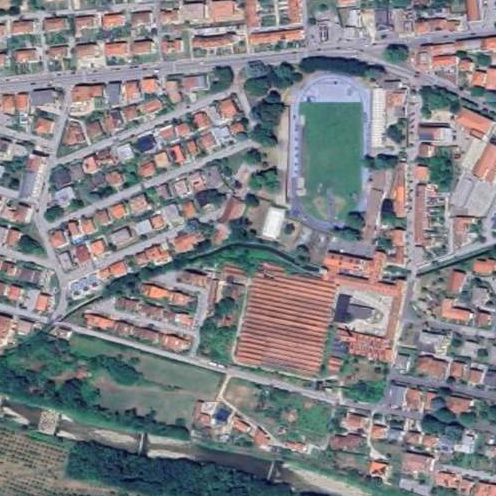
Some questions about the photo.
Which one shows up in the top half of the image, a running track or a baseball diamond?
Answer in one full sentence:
You can see a running track in the top half of the image.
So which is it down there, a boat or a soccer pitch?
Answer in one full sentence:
Visible in the photo is a soccer pitch.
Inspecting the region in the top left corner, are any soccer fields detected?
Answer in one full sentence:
No, in the top left corner there is no soccer field.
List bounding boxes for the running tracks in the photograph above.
[286,70,371,231]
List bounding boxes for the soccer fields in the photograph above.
[298,102,360,221]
